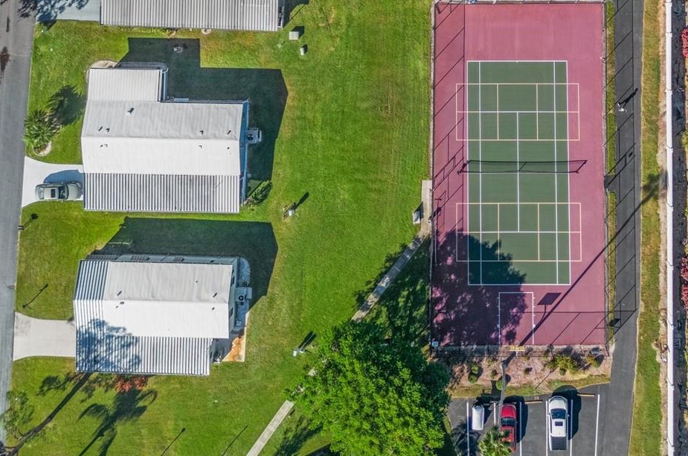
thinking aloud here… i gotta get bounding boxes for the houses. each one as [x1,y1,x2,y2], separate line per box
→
[73,254,238,376]
[100,0,280,31]
[81,63,252,213]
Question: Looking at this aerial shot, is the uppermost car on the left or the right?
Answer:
left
